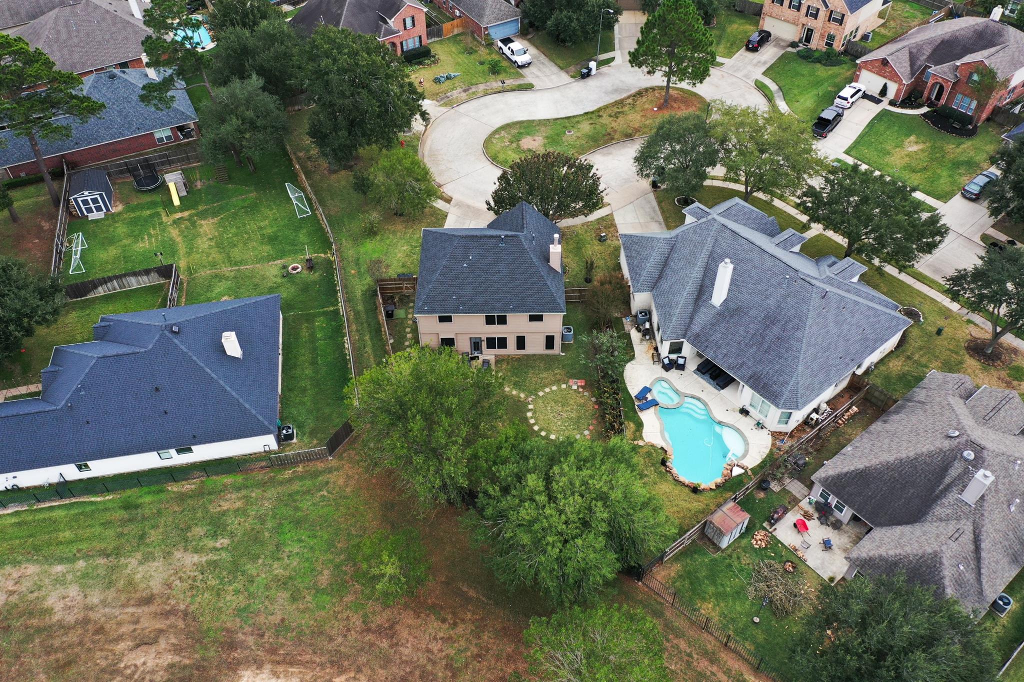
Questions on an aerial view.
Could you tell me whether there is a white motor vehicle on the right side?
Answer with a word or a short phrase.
Yes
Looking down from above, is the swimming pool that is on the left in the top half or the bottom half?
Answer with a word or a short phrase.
top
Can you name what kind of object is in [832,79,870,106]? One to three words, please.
car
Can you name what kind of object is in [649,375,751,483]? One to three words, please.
swimming pool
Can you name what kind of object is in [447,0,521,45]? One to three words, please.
house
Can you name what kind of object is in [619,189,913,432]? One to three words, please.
house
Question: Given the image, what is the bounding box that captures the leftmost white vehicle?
[495,35,535,68]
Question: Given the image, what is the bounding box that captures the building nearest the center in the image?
[413,201,567,357]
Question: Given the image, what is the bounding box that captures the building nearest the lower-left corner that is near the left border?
[0,294,281,495]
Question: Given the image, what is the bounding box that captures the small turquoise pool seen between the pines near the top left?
[172,16,214,47]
